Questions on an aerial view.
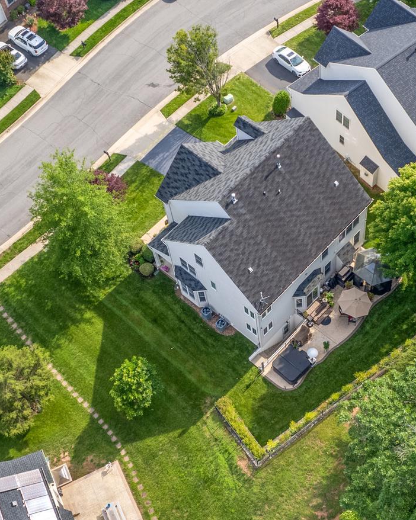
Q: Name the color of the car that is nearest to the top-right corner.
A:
white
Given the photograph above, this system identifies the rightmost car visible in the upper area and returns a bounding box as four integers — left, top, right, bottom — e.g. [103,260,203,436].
[271,46,311,78]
